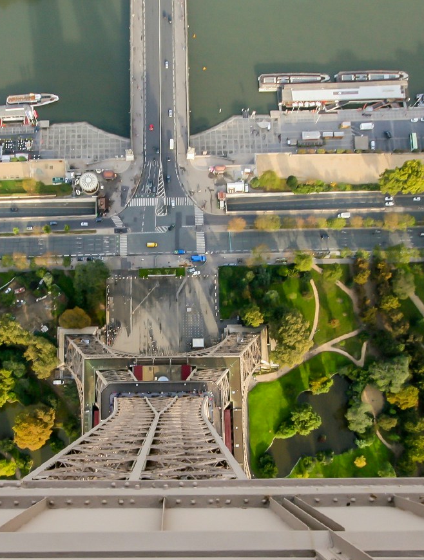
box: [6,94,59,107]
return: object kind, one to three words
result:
boat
